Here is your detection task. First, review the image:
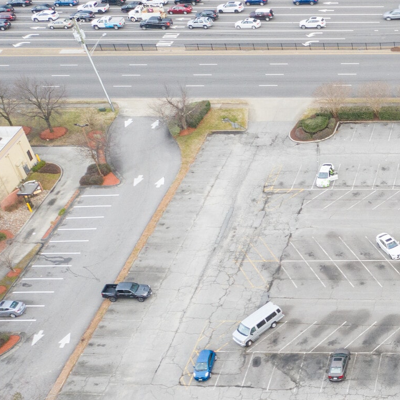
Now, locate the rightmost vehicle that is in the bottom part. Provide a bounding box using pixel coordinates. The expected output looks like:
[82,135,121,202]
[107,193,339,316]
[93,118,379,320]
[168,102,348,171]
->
[375,231,400,258]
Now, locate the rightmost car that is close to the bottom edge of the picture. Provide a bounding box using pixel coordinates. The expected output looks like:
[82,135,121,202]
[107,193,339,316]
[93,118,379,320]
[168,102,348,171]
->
[326,347,351,383]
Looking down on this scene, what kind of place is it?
parking lot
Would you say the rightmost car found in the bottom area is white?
Yes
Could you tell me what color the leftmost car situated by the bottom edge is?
blue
